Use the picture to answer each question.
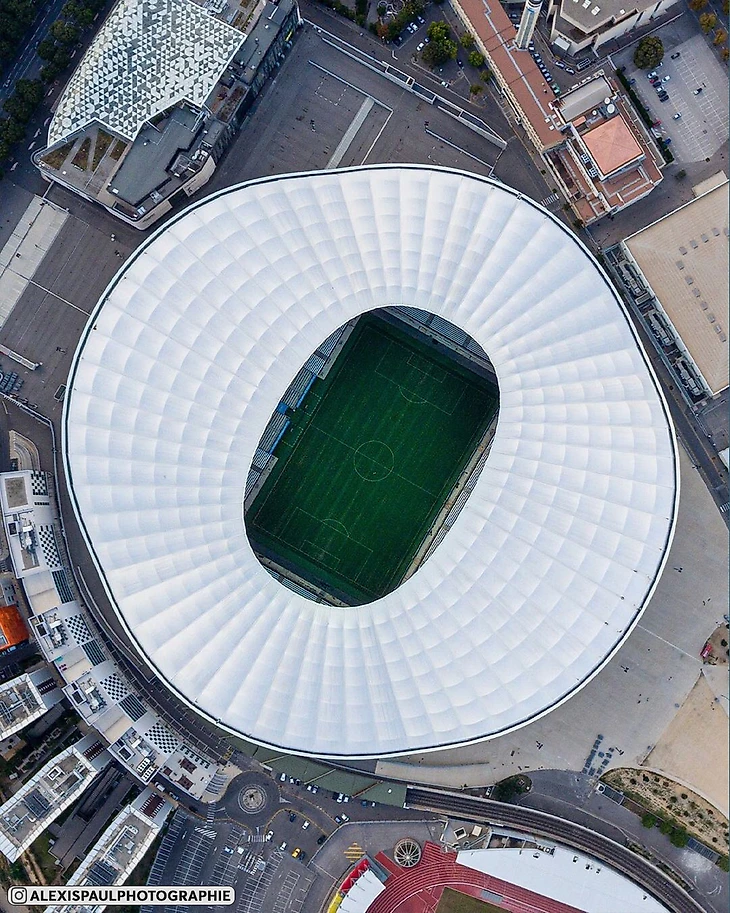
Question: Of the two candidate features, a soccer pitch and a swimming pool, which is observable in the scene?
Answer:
soccer pitch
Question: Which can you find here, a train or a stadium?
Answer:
stadium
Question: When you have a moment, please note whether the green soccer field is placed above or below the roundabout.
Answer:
above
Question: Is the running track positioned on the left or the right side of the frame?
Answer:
right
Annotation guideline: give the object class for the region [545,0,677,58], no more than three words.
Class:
building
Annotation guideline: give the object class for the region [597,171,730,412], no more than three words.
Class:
building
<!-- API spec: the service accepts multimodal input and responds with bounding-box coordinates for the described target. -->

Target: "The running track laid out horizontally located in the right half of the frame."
[369,842,585,913]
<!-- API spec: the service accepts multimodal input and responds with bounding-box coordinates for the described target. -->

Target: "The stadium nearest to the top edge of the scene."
[62,164,679,760]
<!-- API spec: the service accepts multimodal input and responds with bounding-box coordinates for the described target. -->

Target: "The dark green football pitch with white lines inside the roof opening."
[243,312,499,605]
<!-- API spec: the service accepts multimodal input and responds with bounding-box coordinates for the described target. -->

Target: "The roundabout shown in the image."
[223,768,282,827]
